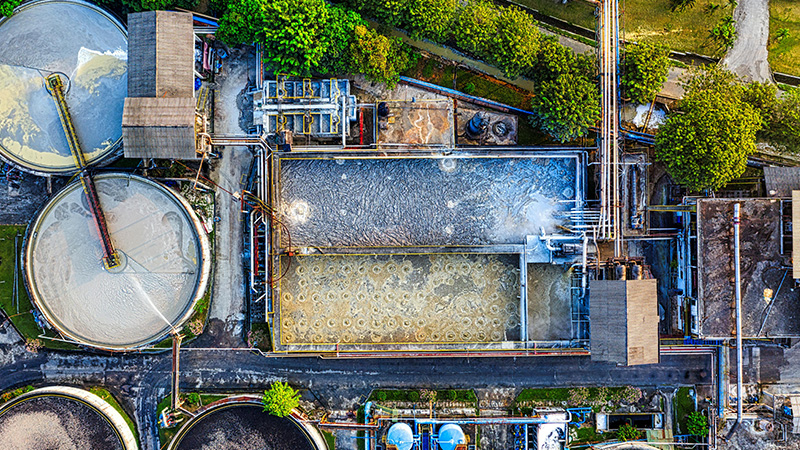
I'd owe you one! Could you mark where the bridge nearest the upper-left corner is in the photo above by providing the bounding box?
[50,77,91,167]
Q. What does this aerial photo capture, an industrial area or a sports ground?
industrial area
